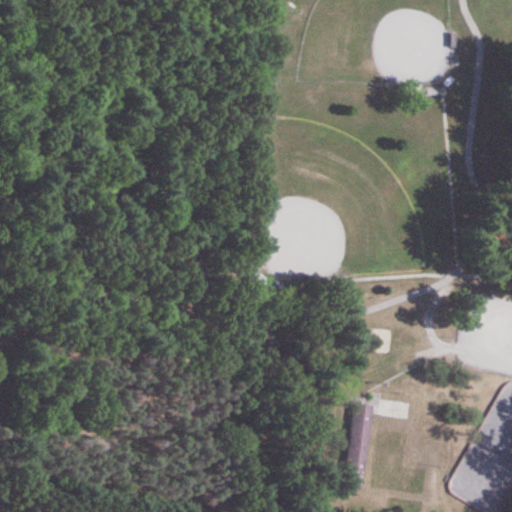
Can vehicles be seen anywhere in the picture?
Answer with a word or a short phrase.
No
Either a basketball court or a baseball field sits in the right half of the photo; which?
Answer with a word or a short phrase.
baseball field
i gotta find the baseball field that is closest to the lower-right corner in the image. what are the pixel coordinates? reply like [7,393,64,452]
[456,288,512,372]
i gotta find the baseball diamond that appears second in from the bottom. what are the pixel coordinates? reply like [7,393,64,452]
[262,117,424,280]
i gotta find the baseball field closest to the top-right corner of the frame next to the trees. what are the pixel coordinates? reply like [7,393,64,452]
[297,0,452,86]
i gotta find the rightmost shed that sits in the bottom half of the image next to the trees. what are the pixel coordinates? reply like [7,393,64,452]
[348,404,374,479]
